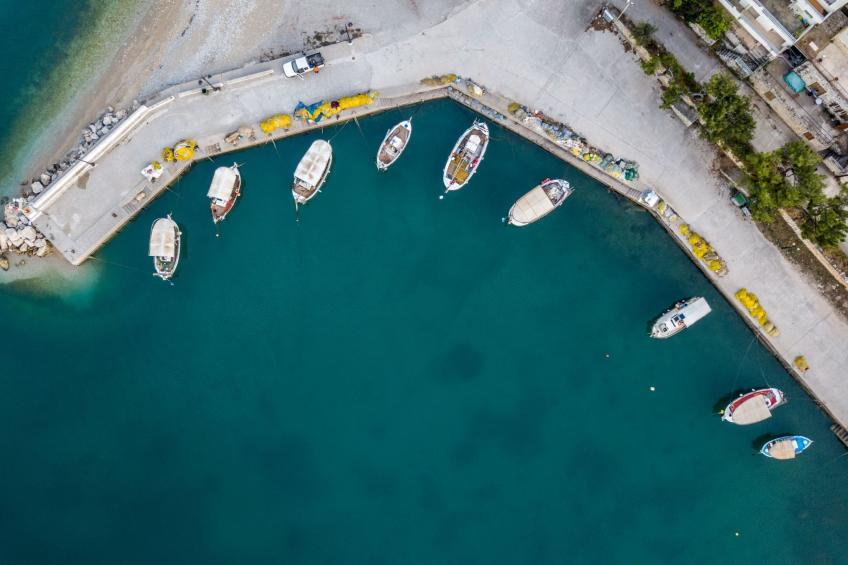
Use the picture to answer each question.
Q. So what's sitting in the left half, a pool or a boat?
boat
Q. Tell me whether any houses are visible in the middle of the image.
No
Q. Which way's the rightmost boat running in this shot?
from side to side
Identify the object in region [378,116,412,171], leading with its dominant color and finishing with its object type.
white boat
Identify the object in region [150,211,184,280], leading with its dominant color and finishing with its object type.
white boat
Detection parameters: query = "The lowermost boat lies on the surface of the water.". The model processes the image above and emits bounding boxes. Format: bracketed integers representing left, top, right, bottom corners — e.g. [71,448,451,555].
[758,435,816,459]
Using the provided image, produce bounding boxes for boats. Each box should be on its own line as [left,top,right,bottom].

[207,162,245,227]
[719,388,786,425]
[502,184,575,225]
[378,116,412,171]
[758,435,816,459]
[150,211,184,280]
[648,295,711,340]
[293,138,332,213]
[443,118,487,191]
